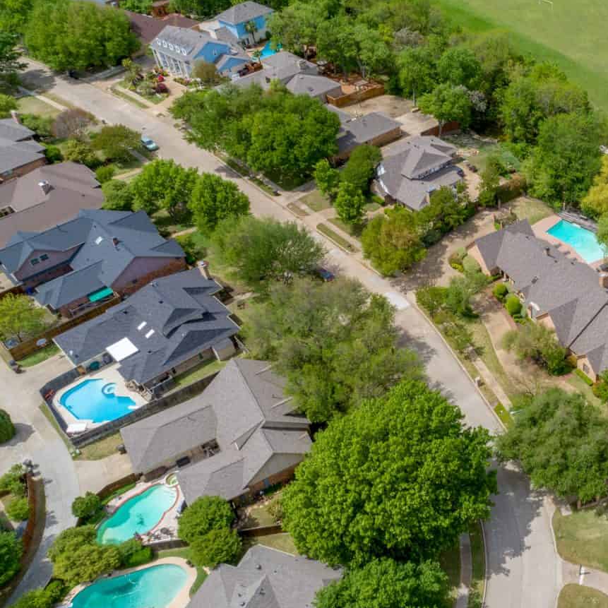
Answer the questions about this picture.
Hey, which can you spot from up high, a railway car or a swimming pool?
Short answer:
swimming pool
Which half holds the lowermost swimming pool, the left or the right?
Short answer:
left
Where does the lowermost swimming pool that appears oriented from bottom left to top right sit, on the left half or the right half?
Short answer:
left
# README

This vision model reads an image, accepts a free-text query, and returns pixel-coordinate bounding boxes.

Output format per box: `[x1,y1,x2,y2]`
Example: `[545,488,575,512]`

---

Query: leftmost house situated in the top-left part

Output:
[0,108,47,178]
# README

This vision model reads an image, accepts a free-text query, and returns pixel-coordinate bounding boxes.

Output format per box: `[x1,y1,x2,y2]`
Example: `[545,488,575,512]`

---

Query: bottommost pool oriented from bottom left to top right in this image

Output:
[95,471,180,546]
